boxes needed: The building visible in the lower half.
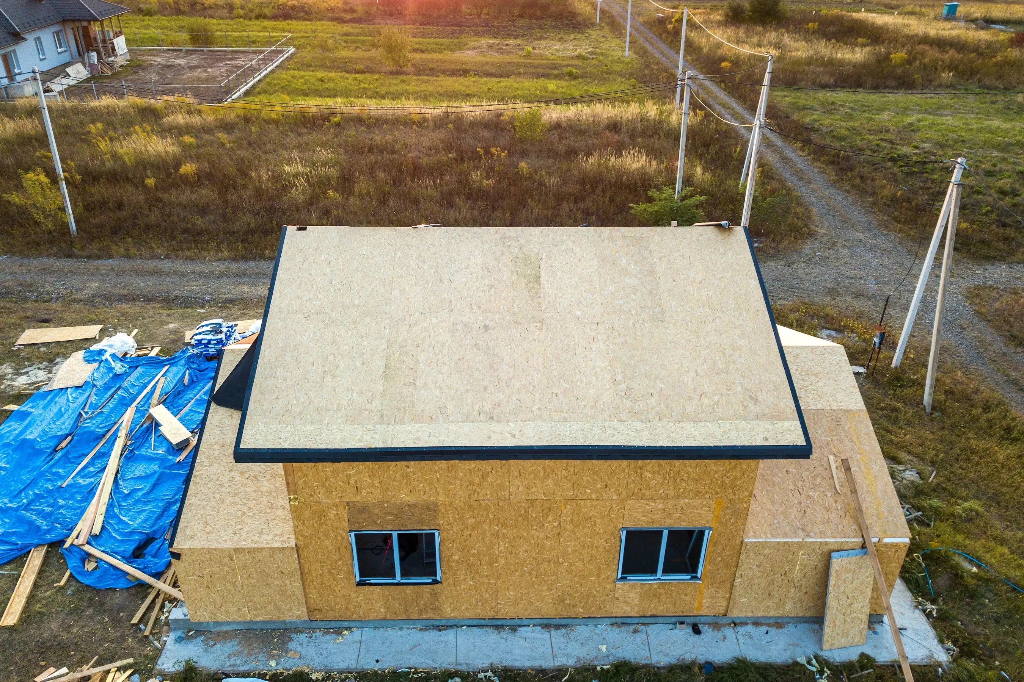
[167,226,911,635]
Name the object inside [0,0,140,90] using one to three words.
house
